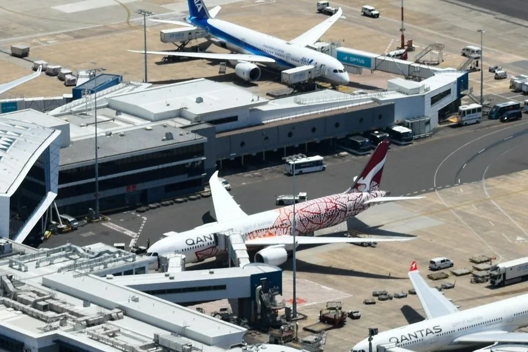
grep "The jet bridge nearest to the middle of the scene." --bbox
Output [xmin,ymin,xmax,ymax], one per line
[213,230,254,268]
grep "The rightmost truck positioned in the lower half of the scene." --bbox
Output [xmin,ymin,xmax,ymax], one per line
[489,257,528,283]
